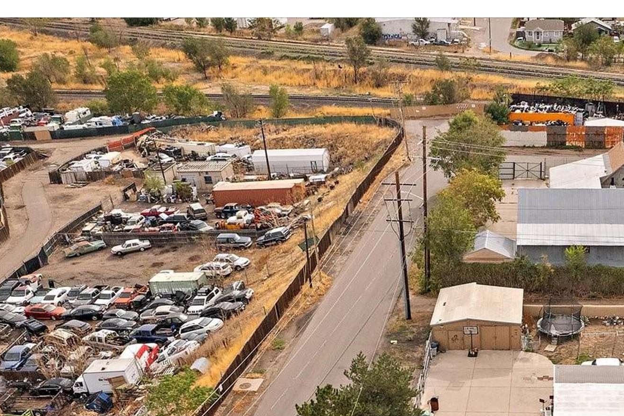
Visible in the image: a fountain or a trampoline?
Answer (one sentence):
This aerial view contains a trampoline.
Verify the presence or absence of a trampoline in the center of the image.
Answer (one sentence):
No, no trampoline appears in the center of the image.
